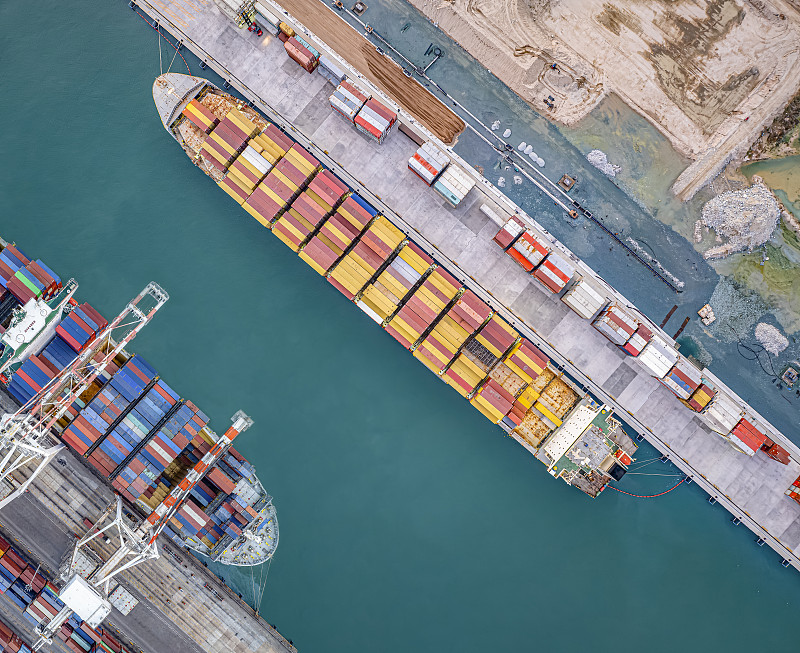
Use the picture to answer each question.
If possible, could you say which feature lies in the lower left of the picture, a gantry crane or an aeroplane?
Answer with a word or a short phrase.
gantry crane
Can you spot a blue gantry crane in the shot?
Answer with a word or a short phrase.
No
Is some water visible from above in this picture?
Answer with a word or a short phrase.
Yes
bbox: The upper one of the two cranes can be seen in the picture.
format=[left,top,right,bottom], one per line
[0,280,171,506]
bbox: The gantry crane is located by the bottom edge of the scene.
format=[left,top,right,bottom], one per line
[12,401,248,653]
